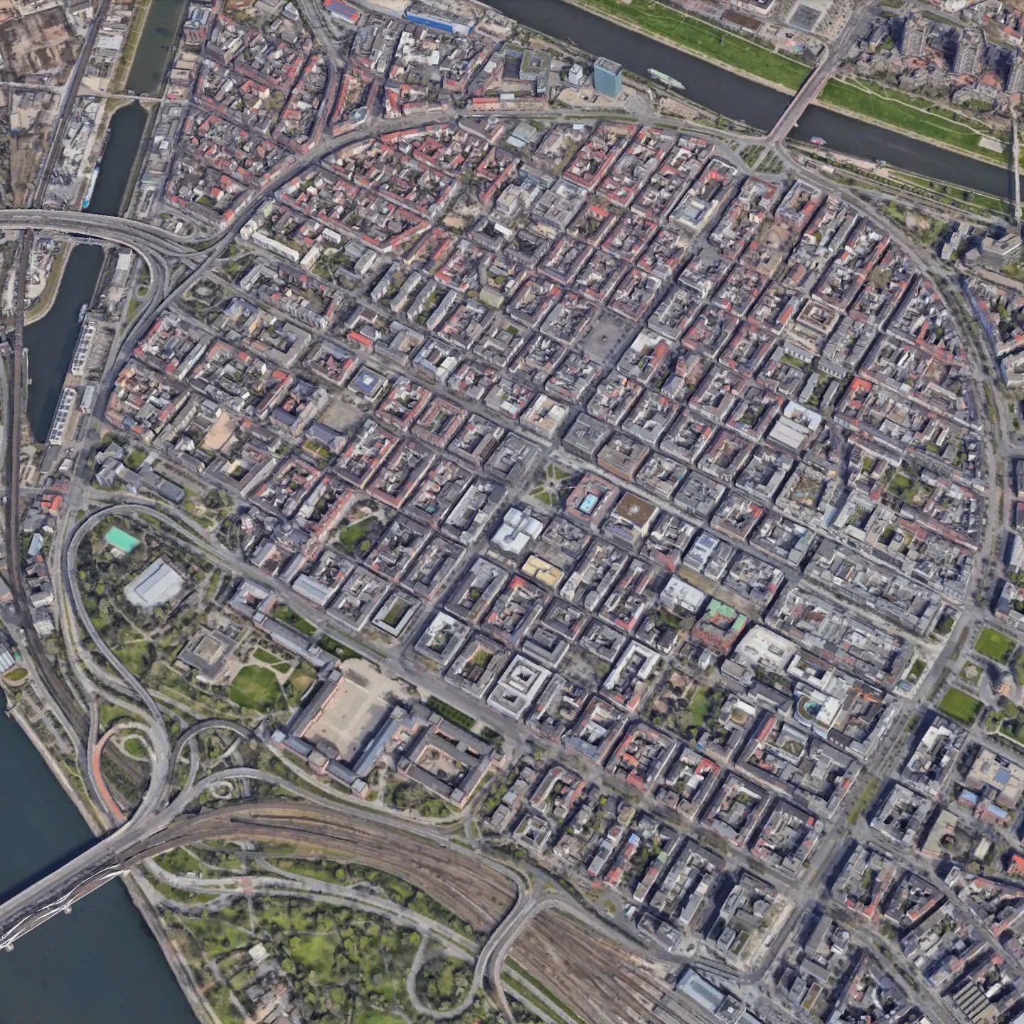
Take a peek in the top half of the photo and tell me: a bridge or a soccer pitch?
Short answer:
bridge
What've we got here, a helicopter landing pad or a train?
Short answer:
train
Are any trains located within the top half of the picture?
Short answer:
No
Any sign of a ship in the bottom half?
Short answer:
No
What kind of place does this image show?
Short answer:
residential area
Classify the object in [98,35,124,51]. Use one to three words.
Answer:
building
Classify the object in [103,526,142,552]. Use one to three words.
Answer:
sports court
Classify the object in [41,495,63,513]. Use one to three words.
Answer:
house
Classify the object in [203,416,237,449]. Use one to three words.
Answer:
playground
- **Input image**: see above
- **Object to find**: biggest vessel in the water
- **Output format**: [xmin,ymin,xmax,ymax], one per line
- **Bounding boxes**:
[646,67,686,89]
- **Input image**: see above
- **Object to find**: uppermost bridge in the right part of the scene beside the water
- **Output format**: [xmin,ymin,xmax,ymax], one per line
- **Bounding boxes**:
[764,55,845,149]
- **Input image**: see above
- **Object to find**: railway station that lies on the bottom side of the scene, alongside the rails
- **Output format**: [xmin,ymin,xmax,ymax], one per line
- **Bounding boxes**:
[677,968,726,1014]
